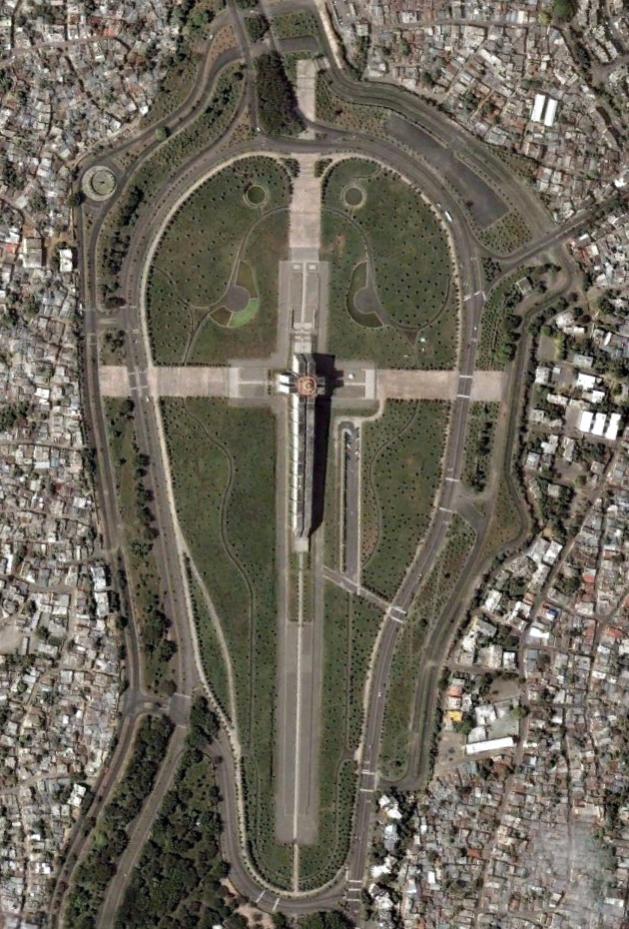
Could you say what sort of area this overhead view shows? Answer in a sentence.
This looks like a residential area.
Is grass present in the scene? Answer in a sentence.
Yes, grass can be seen from above here.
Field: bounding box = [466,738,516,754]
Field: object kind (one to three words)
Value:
building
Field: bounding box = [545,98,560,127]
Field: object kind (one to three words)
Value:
shed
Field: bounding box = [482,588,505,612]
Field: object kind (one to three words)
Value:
house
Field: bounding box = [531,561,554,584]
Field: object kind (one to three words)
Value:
house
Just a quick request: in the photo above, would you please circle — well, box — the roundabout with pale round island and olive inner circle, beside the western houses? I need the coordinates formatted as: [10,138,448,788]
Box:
[75,159,123,206]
